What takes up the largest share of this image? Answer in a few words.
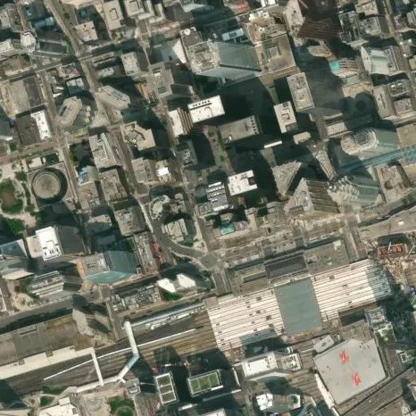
buildings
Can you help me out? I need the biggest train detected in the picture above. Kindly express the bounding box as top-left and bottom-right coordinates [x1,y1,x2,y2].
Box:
[23,364,85,383]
